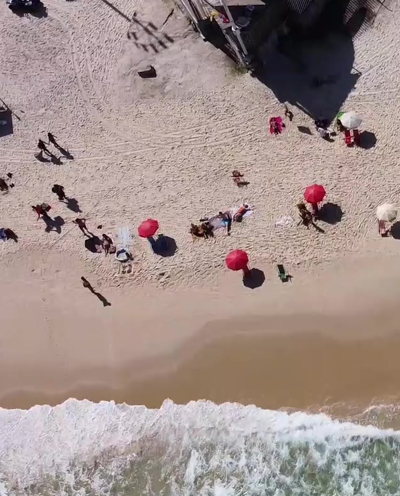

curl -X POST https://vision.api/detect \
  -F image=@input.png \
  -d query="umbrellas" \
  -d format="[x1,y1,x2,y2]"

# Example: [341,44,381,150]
[377,208,400,225]
[341,115,363,133]
[304,188,328,206]
[226,251,252,274]
[139,222,161,241]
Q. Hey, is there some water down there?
Yes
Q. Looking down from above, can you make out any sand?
Yes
